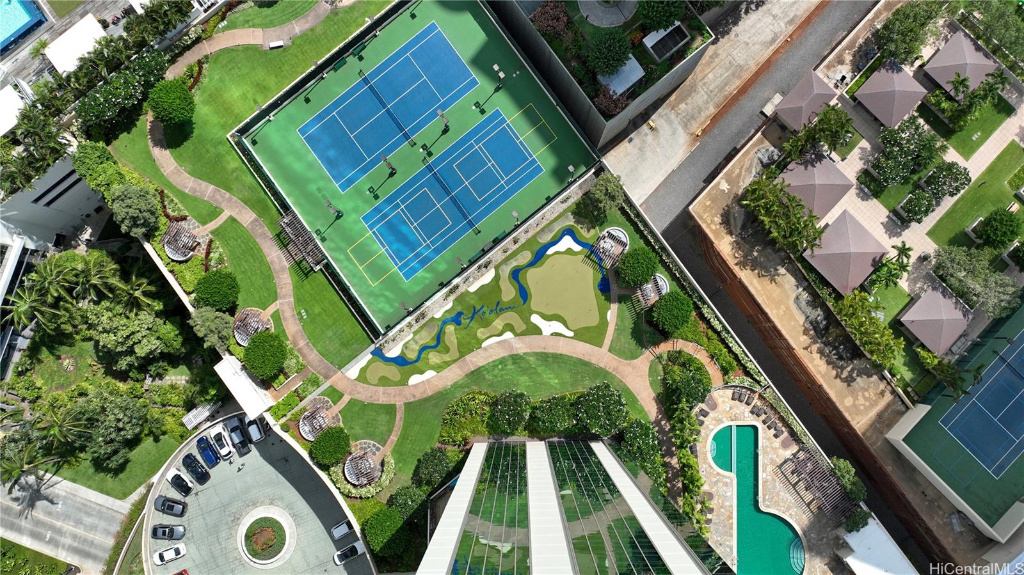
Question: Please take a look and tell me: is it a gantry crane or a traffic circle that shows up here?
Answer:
traffic circle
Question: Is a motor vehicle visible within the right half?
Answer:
No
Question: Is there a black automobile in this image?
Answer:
Yes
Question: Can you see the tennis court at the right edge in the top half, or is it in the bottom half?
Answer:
bottom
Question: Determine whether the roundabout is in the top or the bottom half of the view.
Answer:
bottom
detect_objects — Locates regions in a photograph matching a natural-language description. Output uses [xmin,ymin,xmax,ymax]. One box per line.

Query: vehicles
[242,416,269,446]
[153,541,189,565]
[331,540,366,569]
[198,434,220,470]
[167,467,195,500]
[228,417,252,458]
[152,524,187,541]
[328,518,354,542]
[154,498,190,516]
[185,451,211,487]
[211,425,235,463]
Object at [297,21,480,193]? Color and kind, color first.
blue tennis court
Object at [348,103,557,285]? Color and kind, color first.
blue tennis court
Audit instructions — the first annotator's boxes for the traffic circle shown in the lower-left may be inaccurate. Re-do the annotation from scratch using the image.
[236,507,296,568]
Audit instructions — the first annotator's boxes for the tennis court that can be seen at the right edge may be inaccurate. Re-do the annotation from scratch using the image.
[884,293,1024,545]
